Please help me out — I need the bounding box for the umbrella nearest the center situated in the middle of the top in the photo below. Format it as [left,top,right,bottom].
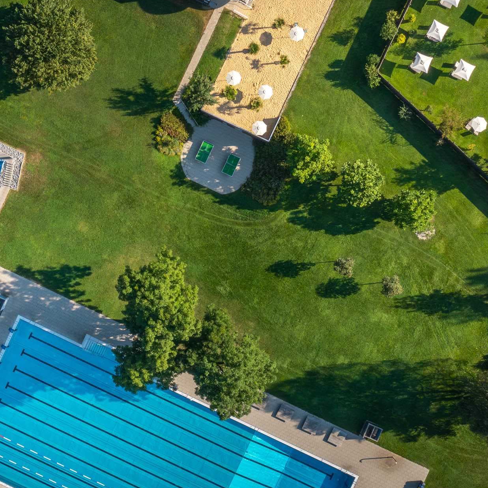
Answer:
[252,120,267,135]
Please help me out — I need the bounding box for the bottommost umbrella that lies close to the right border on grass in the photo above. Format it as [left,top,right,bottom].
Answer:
[468,118,485,133]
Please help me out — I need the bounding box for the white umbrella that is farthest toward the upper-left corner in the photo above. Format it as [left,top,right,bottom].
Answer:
[225,71,241,86]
